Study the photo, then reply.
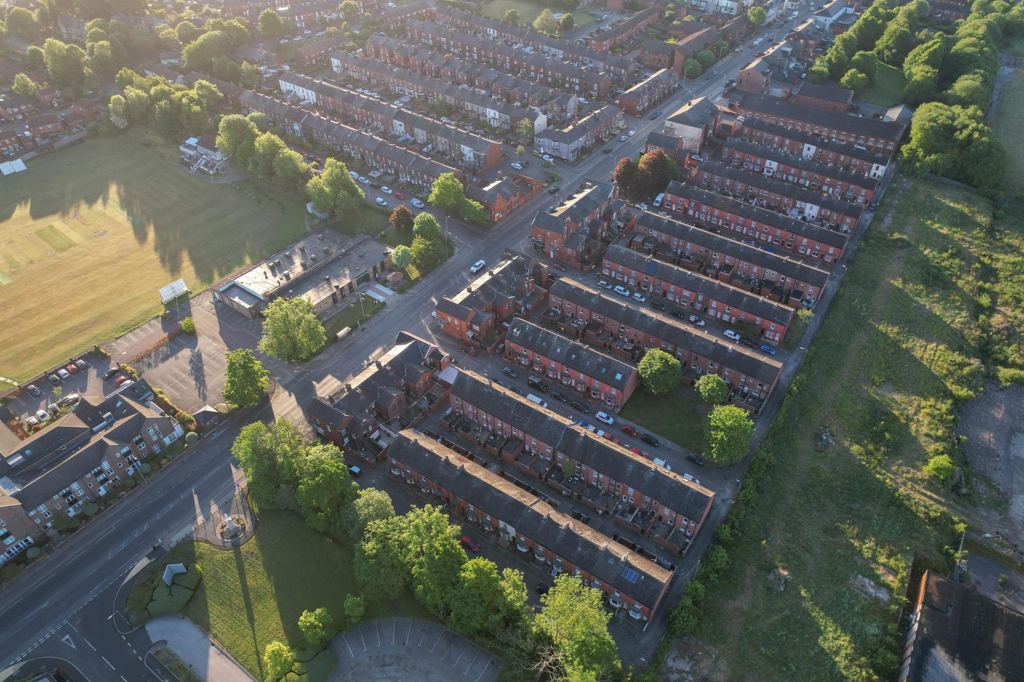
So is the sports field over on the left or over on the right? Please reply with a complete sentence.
The sports field appears in the left half of the scene.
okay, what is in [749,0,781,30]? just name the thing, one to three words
house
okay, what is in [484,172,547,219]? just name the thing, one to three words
building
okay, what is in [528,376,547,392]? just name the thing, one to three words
vehicle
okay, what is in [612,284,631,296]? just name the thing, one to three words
vehicle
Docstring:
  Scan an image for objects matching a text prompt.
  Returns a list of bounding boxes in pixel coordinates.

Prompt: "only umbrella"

[385,270,403,283]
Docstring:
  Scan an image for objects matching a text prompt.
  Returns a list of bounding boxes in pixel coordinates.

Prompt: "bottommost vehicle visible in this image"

[532,579,548,595]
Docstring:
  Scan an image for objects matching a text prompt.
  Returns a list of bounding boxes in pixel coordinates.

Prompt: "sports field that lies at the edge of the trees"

[0,122,308,391]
